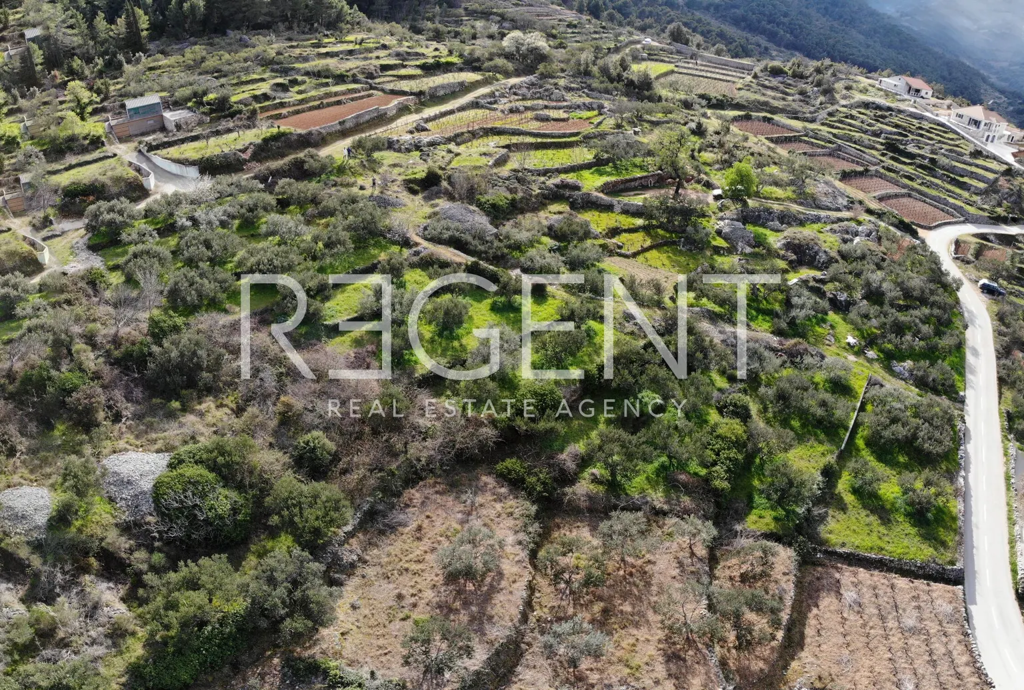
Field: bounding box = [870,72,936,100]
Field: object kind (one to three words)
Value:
house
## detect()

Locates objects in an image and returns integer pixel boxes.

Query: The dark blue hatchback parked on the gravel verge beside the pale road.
[977,277,1009,295]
